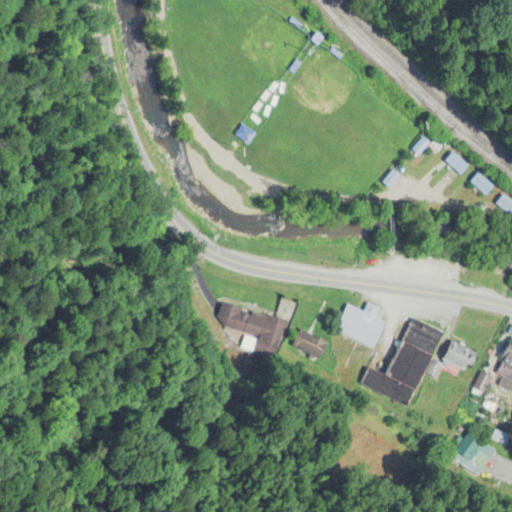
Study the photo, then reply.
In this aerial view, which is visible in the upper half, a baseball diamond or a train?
baseball diamond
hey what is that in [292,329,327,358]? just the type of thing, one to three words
house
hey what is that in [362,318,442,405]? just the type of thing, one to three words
building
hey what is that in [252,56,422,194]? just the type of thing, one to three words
baseball field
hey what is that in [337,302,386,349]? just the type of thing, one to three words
building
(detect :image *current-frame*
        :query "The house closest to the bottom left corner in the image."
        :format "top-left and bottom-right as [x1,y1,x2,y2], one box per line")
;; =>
[220,304,288,356]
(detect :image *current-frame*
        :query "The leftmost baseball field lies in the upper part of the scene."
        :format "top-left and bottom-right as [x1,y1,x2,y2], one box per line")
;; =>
[170,0,306,142]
